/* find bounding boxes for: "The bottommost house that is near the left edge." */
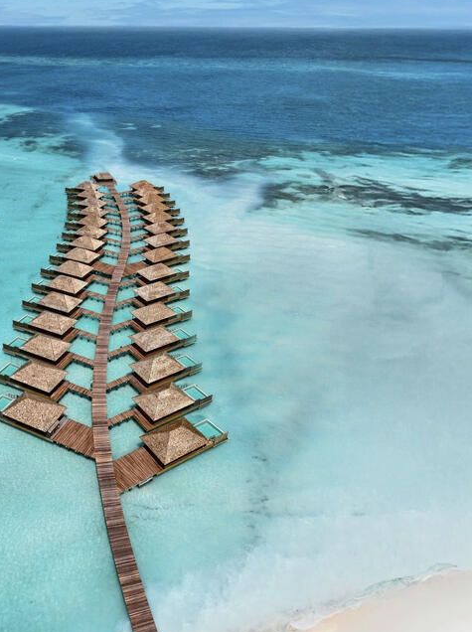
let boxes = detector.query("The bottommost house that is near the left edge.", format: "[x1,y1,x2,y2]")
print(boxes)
[0,391,72,447]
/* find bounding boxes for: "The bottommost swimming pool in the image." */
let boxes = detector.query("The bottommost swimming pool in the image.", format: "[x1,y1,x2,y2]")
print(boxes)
[193,417,224,440]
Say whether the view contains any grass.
No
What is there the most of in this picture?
water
